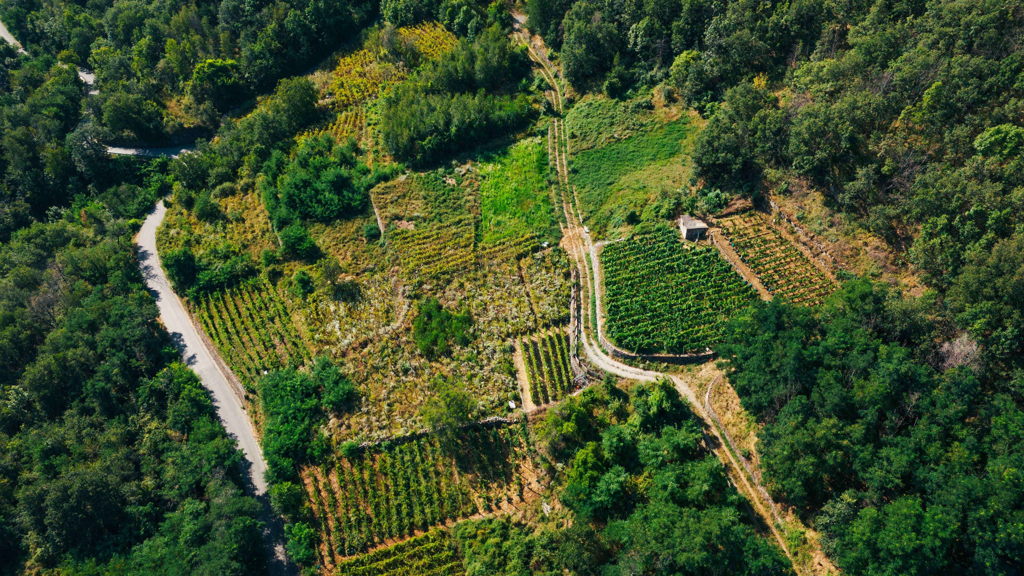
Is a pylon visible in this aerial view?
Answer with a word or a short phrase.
No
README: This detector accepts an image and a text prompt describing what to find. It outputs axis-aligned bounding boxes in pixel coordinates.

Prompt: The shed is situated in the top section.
[680,212,712,242]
